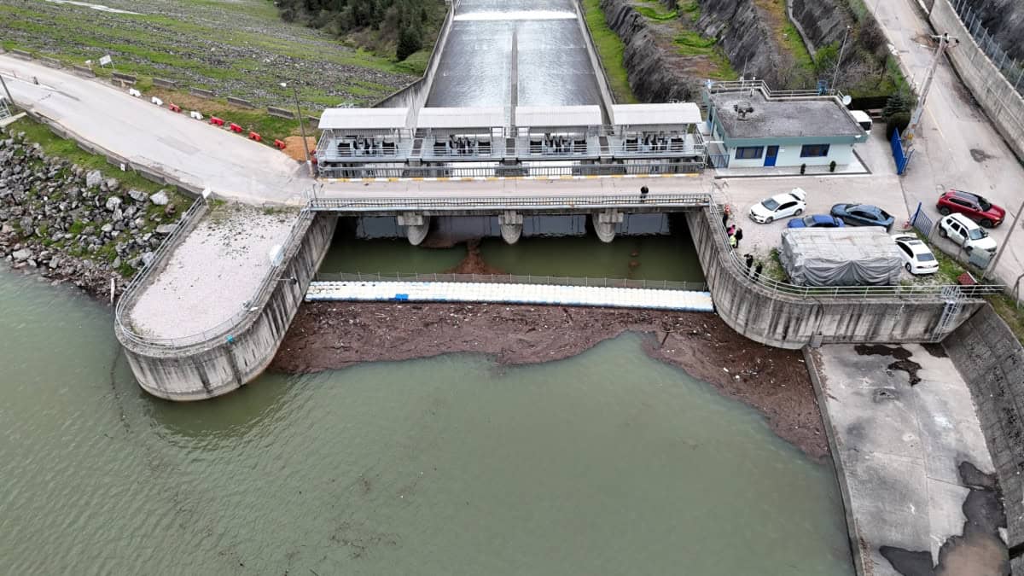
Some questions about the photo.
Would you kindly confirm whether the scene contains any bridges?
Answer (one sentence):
Yes, a bridge is visible in the scene.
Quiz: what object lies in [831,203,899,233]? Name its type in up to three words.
car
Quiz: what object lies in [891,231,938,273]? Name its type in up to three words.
car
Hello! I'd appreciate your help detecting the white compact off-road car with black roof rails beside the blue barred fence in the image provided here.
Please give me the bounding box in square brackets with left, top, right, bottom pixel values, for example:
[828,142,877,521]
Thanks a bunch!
[937,212,999,255]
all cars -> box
[936,190,1008,229]
[891,231,938,273]
[831,203,899,233]
[787,211,851,230]
[937,212,999,255]
[750,187,809,224]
